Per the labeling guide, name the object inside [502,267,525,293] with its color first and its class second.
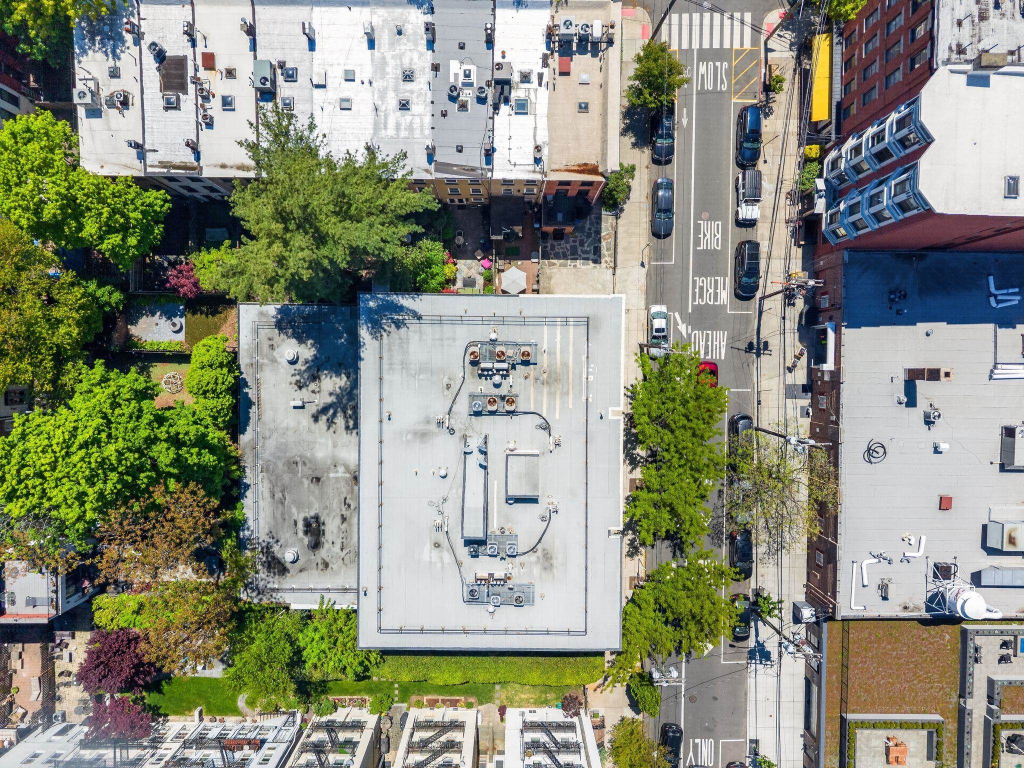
white umbrella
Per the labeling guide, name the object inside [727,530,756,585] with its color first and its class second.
black car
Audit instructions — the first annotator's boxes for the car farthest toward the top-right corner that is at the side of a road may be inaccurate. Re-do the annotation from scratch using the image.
[735,102,766,166]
